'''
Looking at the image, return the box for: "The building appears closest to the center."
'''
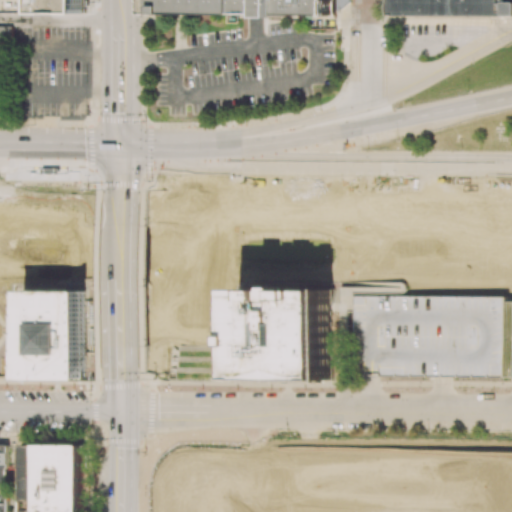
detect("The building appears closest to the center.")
[208,287,340,382]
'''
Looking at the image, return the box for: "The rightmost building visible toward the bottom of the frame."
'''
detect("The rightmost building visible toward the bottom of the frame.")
[345,284,512,376]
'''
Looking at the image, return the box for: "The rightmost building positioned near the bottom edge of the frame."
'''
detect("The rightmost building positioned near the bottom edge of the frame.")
[16,444,82,512]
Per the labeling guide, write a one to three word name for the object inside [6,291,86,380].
building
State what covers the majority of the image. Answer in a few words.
paved ground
